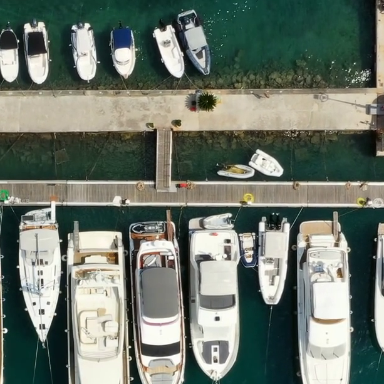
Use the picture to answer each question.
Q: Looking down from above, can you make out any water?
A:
Yes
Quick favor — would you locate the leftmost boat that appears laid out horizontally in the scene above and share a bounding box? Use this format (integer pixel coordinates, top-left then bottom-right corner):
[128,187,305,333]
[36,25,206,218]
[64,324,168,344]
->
[21,208,55,223]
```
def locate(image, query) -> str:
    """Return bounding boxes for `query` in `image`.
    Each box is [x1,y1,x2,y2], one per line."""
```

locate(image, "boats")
[178,7,211,75]
[258,214,290,304]
[204,214,235,229]
[248,148,284,175]
[371,223,384,350]
[21,208,55,223]
[133,223,166,234]
[61,221,134,384]
[109,18,139,80]
[153,16,184,79]
[129,210,188,384]
[291,211,355,384]
[210,163,255,178]
[238,233,257,268]
[23,13,52,83]
[16,196,63,345]
[70,15,101,85]
[188,217,241,384]
[0,18,21,82]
